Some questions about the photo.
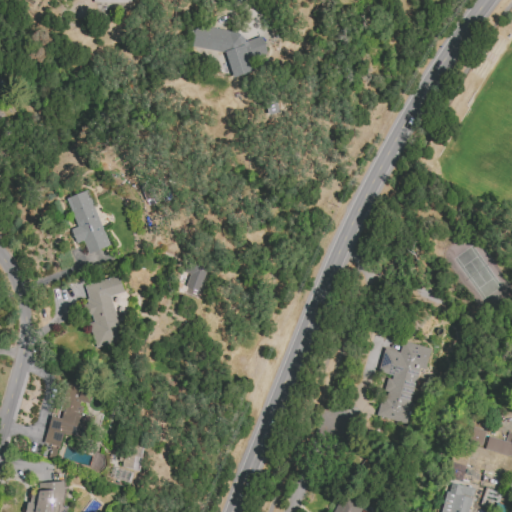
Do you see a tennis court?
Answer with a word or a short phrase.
Yes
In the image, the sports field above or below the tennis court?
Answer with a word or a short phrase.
above it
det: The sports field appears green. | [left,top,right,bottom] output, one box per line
[441,41,512,202]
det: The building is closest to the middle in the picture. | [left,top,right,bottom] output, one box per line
[187,266,207,296]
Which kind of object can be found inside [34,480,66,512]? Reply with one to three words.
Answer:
house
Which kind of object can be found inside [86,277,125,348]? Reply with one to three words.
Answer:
house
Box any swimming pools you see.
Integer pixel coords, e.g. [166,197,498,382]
[64,447,92,466]
[84,499,102,512]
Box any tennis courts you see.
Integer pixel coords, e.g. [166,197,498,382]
[442,244,505,306]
